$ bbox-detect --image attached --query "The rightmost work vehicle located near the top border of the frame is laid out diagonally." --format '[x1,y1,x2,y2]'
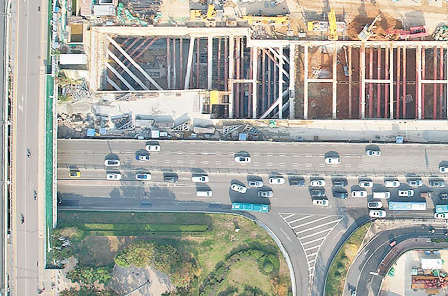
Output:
[354,14,381,43]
